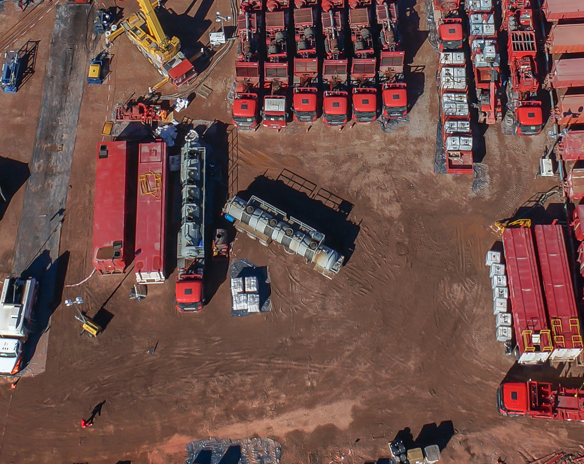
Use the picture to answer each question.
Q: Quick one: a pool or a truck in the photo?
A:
truck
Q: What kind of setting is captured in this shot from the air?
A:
industrial area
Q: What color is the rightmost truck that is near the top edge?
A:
red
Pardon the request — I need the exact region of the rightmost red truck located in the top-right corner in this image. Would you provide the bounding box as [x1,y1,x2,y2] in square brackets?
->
[505,0,550,137]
